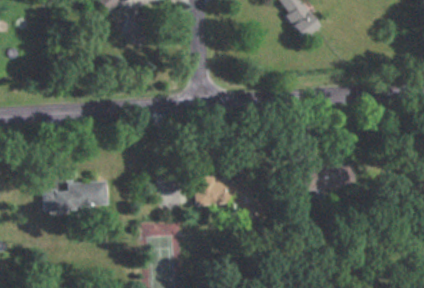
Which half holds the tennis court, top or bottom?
bottom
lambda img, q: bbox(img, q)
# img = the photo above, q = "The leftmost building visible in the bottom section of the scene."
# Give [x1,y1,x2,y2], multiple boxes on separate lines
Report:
[43,180,110,212]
